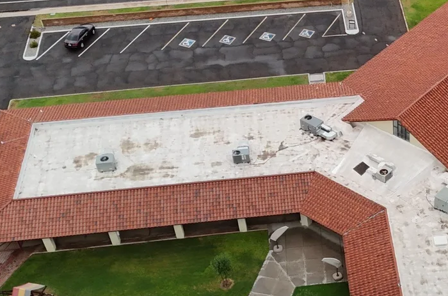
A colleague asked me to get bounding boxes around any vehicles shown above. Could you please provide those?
[61,21,96,48]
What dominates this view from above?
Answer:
buildings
